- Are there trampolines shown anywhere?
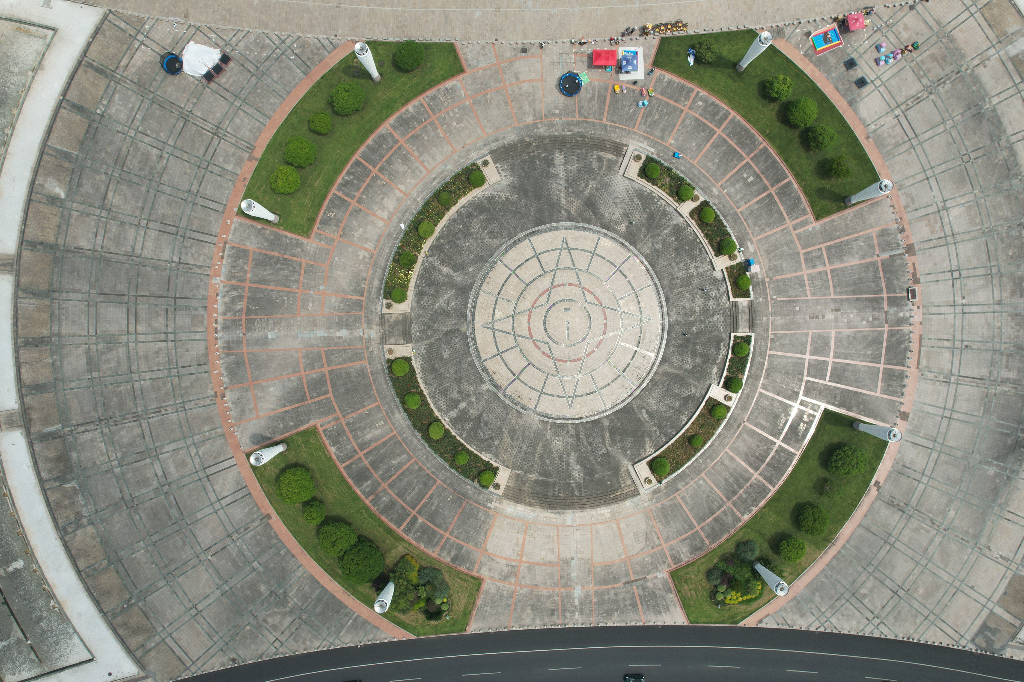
Yes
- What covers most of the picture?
paved ground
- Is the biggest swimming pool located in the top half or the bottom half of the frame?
top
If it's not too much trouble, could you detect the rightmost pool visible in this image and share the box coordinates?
[812,28,840,51]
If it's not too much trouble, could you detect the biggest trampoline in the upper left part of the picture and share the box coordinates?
[159,52,182,75]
